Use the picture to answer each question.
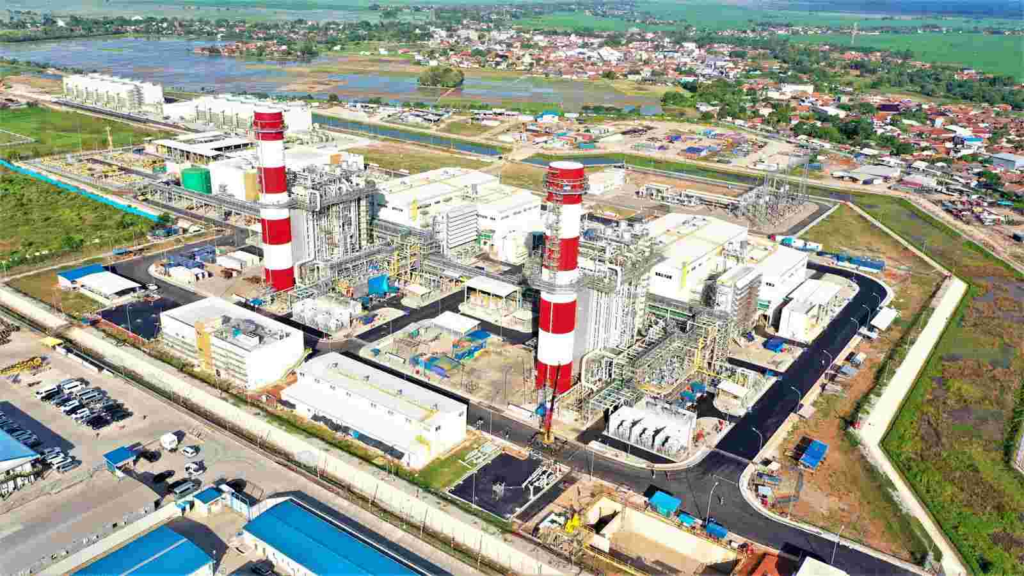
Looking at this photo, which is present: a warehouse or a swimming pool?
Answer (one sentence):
The image shows a warehouse.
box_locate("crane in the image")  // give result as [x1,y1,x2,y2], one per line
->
[528,365,558,452]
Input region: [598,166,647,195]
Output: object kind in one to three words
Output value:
building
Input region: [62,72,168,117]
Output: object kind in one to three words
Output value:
cooling tower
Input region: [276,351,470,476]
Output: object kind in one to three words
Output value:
warehouse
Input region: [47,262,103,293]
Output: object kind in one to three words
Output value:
shed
